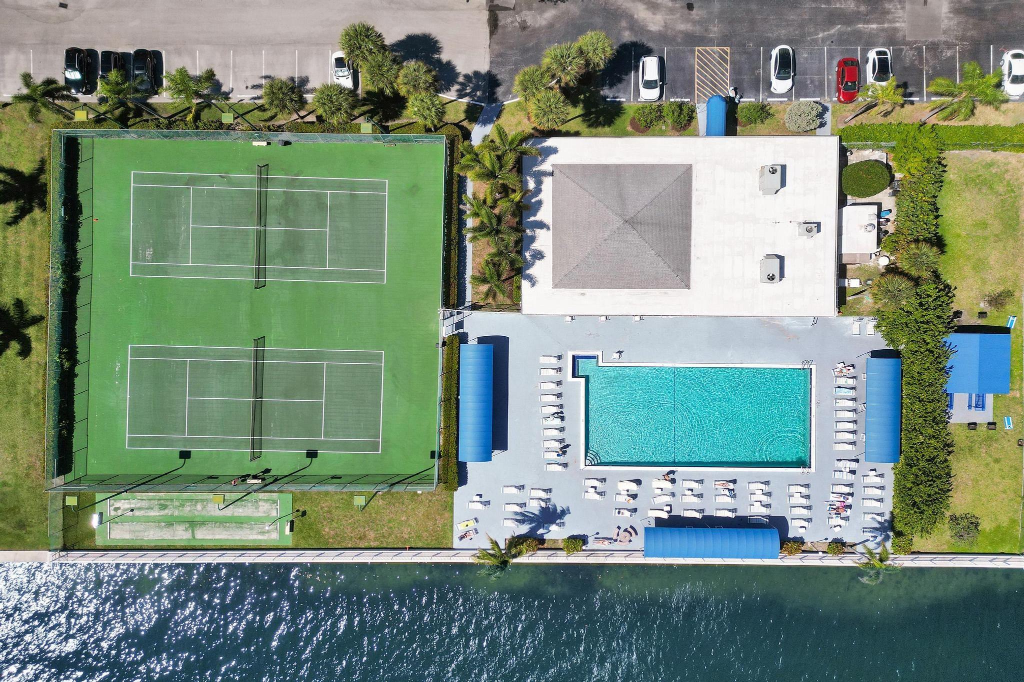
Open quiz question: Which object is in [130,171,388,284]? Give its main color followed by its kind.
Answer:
green tennis court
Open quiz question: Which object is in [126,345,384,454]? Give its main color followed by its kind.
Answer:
green tennis court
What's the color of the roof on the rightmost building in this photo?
blue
